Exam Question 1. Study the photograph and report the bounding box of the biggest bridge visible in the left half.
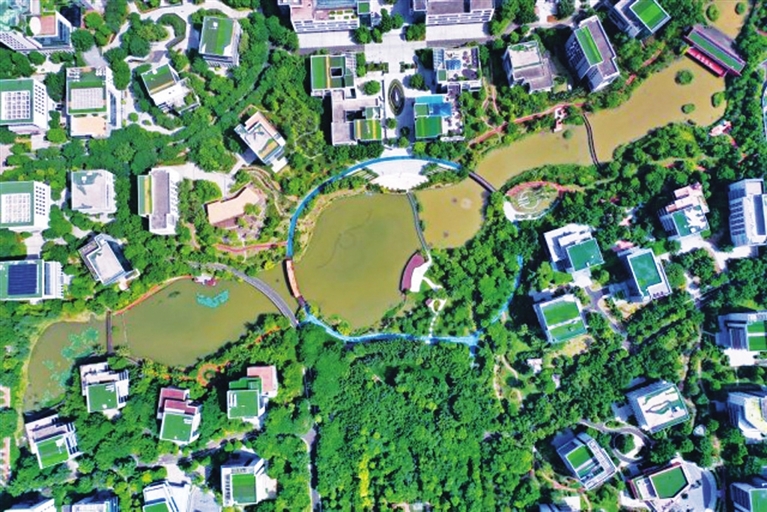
[213,263,300,329]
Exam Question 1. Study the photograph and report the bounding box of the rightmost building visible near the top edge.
[592,0,671,44]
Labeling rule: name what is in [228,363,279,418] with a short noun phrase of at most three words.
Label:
house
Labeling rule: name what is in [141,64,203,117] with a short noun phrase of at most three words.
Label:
building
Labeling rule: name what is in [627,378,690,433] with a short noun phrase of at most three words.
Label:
building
